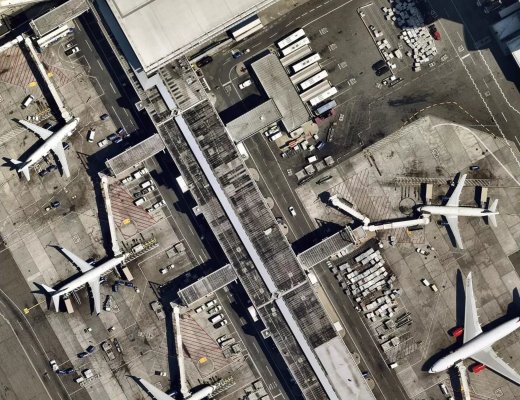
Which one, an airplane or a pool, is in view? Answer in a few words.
airplane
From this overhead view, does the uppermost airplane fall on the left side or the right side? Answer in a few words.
left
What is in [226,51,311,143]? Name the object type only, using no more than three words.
building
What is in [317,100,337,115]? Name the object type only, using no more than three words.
vehicle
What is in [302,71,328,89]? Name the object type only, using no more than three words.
vehicle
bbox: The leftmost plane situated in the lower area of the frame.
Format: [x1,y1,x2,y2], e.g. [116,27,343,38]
[48,249,131,316]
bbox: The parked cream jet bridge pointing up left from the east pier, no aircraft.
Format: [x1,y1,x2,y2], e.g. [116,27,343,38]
[329,195,370,226]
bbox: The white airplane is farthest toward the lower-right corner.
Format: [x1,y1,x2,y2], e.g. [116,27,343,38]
[430,271,520,380]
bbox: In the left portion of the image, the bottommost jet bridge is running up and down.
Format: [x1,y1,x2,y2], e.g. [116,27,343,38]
[173,305,191,398]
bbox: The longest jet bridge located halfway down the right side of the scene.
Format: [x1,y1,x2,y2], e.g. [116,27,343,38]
[360,213,431,232]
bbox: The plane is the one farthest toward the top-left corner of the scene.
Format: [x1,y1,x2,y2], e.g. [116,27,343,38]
[11,118,79,180]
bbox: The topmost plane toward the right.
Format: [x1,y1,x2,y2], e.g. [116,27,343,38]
[419,173,500,249]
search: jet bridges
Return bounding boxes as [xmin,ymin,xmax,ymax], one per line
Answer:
[457,359,472,400]
[173,305,191,398]
[329,195,370,226]
[360,213,431,232]
[23,36,75,119]
[99,175,121,258]
[0,34,24,52]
